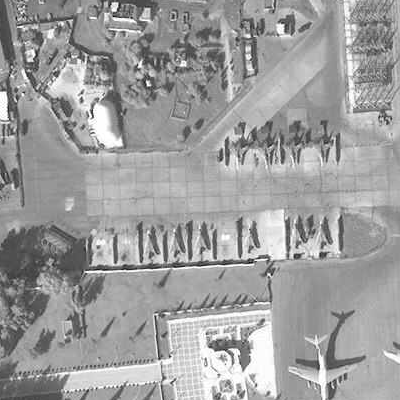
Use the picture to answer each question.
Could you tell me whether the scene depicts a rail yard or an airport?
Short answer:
airport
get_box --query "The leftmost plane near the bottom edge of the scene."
[287,333,357,400]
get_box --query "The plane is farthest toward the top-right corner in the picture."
[311,134,333,165]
